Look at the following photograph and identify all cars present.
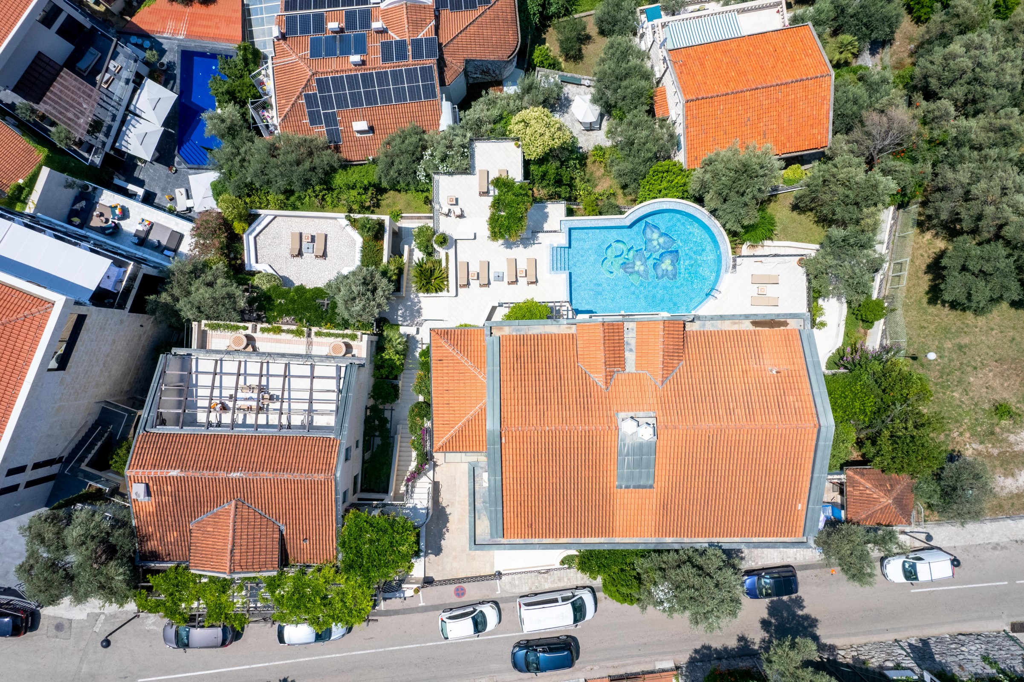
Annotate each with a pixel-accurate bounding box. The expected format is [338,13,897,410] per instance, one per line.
[509,633,577,675]
[741,565,800,601]
[439,600,502,638]
[517,588,594,633]
[168,619,236,651]
[0,606,36,638]
[880,545,960,586]
[279,616,348,650]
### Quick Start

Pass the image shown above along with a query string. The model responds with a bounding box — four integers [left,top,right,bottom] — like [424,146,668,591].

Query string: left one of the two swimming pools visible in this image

[174,45,243,169]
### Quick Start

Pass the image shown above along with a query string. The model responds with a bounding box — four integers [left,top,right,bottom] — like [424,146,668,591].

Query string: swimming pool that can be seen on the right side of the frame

[549,198,731,317]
